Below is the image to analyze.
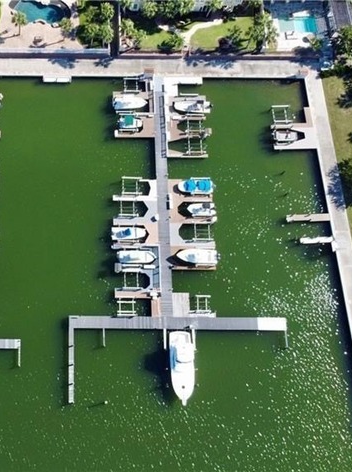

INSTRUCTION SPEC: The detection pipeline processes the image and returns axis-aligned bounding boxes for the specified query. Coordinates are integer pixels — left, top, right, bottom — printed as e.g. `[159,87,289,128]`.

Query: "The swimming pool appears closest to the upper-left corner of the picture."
[11,0,71,25]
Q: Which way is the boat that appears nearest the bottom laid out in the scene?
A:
up and down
